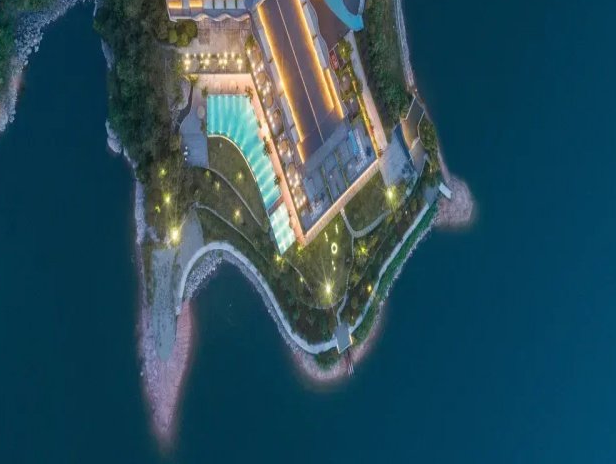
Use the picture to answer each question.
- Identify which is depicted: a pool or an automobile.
pool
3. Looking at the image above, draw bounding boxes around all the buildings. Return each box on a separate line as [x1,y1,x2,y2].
[167,0,380,237]
[336,323,352,353]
